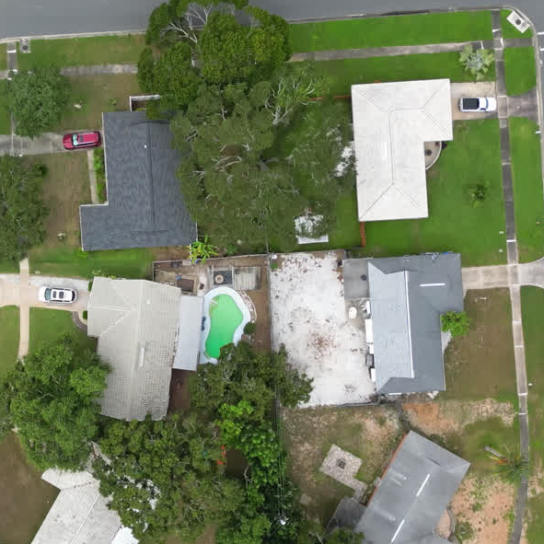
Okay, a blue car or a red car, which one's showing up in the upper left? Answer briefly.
red car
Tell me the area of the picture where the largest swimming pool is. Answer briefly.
center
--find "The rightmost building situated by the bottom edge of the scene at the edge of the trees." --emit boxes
[321,430,470,544]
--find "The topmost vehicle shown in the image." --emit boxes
[457,94,498,113]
